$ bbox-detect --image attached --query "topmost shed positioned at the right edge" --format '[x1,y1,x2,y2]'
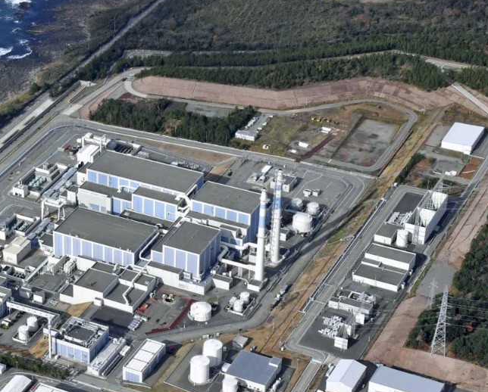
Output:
[441,121,484,154]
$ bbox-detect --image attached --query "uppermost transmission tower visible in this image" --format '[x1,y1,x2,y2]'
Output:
[434,167,449,193]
